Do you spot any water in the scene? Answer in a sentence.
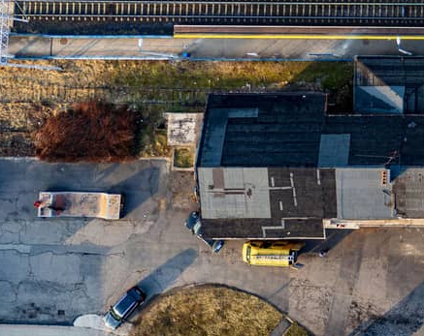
No, there's no water in this view.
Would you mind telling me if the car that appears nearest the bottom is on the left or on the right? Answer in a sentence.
The car that appears nearest the bottom is on the left side of the image.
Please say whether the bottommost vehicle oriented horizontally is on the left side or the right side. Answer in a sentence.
The bottommost vehicle oriented horizontally is on the right side of the image.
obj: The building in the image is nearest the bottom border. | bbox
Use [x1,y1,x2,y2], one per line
[195,92,424,240]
